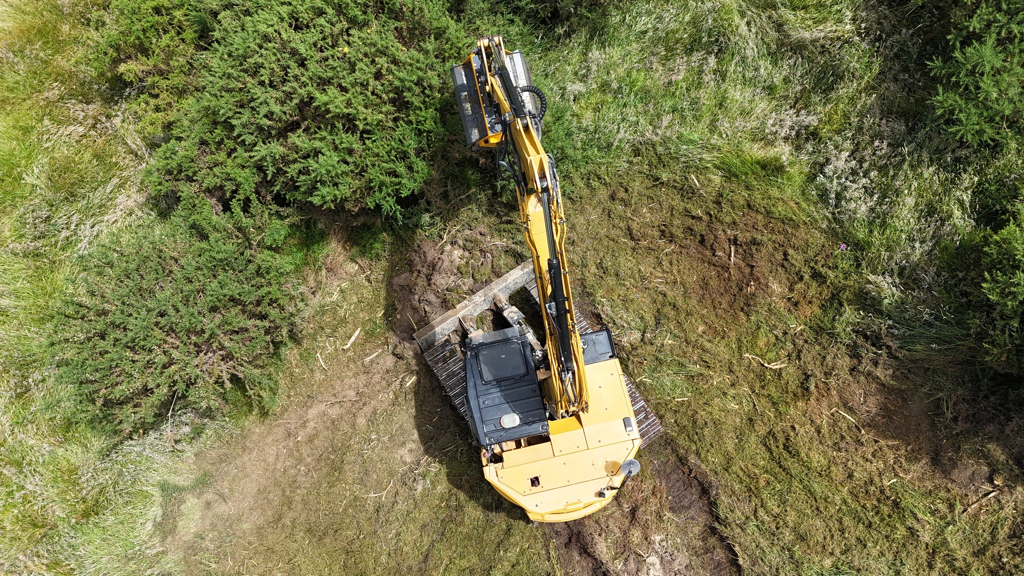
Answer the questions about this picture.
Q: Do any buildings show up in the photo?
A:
No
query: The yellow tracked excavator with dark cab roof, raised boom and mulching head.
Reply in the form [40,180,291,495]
[411,30,660,522]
